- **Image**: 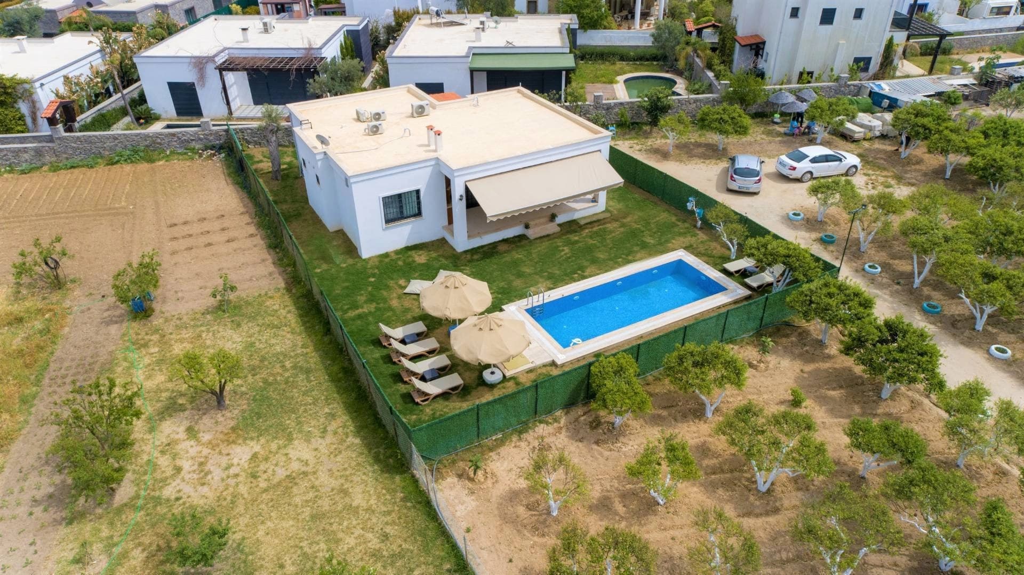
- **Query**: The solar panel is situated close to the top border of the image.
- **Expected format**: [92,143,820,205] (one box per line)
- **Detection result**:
[439,11,470,28]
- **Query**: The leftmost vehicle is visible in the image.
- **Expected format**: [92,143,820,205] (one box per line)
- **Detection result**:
[725,150,767,191]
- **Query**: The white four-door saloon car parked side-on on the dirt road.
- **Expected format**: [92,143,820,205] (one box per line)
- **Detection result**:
[774,142,864,182]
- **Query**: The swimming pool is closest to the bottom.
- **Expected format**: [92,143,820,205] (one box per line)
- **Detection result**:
[503,246,750,364]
